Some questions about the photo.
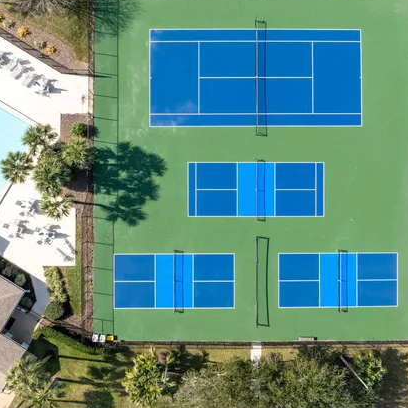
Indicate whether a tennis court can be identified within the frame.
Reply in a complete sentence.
Yes, the image includes a tennis court.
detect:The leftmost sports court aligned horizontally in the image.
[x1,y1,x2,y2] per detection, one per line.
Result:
[114,254,234,308]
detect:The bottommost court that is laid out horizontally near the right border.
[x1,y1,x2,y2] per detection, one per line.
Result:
[279,253,397,307]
